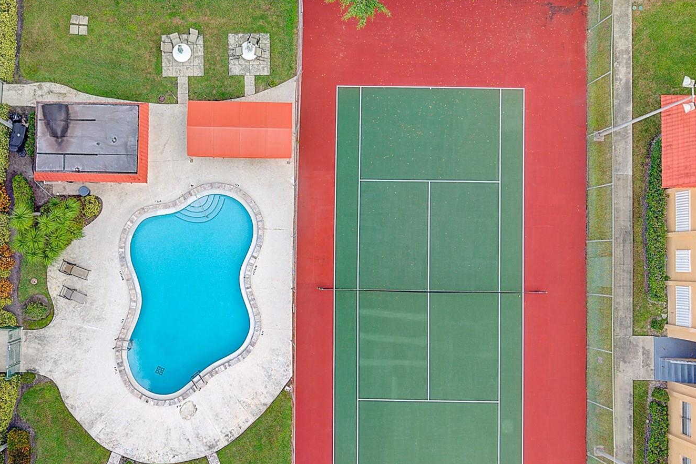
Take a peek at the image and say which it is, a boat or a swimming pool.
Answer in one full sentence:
Of the two, only a swimming pool appears.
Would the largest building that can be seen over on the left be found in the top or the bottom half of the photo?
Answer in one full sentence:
It is in the top half that the largest building that can be seen over on the left appears.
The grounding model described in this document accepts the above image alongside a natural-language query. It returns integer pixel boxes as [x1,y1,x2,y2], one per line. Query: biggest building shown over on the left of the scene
[34,101,148,182]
